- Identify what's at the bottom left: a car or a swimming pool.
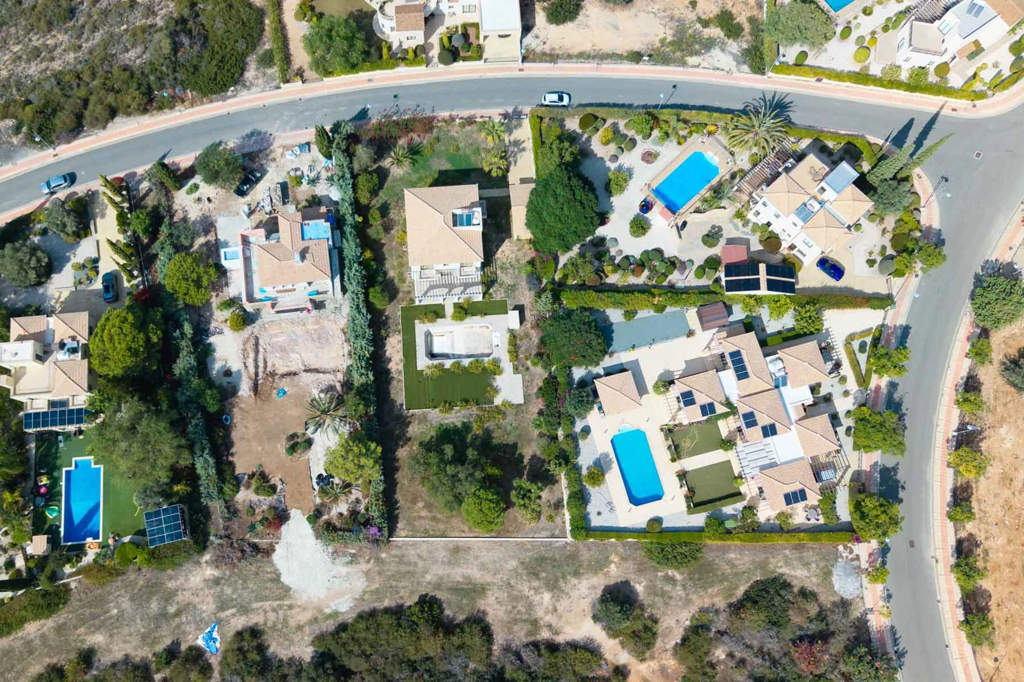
swimming pool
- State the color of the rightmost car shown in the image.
blue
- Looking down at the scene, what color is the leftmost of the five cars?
blue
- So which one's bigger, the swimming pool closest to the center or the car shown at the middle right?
the swimming pool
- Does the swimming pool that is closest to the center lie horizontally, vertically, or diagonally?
horizontally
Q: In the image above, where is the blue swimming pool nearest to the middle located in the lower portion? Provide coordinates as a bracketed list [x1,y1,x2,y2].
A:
[609,424,665,508]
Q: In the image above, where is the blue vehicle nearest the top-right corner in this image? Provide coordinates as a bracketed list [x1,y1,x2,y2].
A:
[814,257,846,283]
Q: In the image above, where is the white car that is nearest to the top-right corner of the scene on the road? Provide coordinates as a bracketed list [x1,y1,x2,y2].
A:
[542,91,570,106]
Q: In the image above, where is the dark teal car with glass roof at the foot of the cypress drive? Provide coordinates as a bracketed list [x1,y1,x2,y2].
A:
[100,271,119,302]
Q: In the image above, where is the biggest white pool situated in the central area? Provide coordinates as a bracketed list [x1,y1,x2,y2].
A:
[422,322,501,363]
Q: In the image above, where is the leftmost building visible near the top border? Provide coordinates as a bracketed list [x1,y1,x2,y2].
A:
[363,0,480,67]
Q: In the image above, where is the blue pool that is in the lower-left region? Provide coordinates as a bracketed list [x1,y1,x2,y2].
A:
[60,455,104,546]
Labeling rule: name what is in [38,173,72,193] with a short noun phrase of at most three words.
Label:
car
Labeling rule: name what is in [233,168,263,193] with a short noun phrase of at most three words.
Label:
car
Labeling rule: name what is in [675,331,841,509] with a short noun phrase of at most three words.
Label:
house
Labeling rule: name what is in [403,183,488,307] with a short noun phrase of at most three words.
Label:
house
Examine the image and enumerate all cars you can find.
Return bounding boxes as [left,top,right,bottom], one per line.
[233,168,263,193]
[38,173,72,193]
[542,91,570,106]
[814,257,846,283]
[100,271,119,302]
